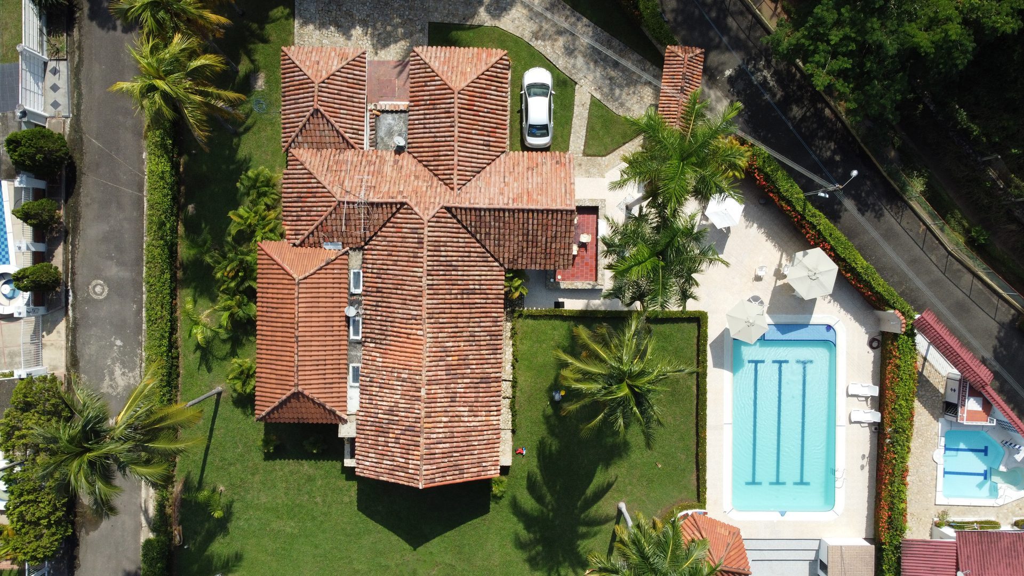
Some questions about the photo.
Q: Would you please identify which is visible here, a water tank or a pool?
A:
pool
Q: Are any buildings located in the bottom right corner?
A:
Yes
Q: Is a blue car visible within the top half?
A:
No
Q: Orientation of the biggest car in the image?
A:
from top to bottom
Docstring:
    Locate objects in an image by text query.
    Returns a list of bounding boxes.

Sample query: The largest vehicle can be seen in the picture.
[520,70,557,149]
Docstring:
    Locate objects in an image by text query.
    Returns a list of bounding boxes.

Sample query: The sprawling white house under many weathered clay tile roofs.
[251,43,577,491]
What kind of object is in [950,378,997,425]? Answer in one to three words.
shed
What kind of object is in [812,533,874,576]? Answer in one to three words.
building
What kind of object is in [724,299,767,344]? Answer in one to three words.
umbrella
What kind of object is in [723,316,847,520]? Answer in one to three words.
swimming pool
